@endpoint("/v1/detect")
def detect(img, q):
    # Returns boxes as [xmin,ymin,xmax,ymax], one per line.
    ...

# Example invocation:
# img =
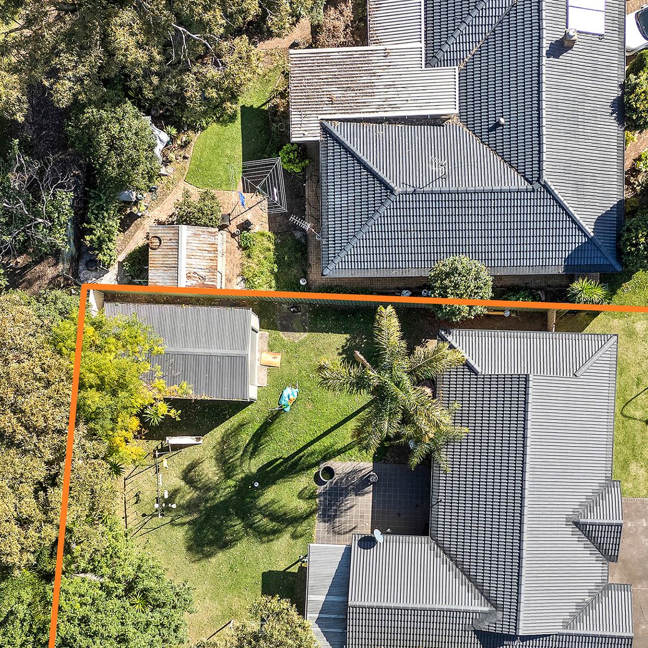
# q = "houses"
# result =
[304,329,633,648]
[289,0,626,279]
